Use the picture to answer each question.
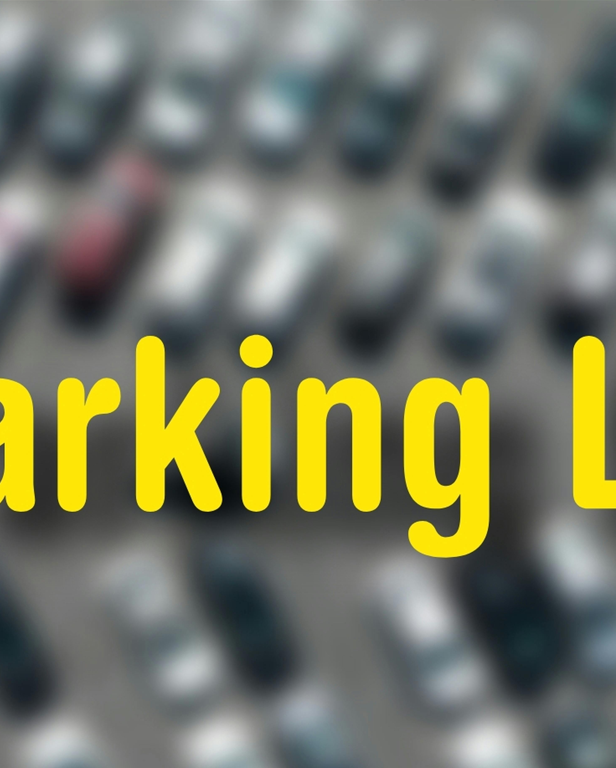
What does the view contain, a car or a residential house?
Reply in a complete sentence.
The one in the frame is a car.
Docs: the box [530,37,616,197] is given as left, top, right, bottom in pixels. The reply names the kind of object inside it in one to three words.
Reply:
car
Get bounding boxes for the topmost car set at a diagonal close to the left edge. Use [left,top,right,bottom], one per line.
[31,27,152,180]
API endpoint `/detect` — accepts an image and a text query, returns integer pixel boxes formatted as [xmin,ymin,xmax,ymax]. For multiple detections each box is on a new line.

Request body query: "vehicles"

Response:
[227,197,347,352]
[135,185,261,344]
[31,27,152,180]
[272,699,372,768]
[437,531,572,708]
[238,2,359,164]
[355,542,483,714]
[529,517,616,688]
[319,28,444,188]
[435,197,551,351]
[530,37,616,197]
[139,0,261,161]
[21,711,108,768]
[0,191,51,324]
[0,550,61,722]
[183,528,311,703]
[326,200,444,356]
[535,190,616,345]
[93,542,217,710]
[0,21,47,140]
[44,166,168,319]
[422,46,537,200]
[186,719,273,768]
